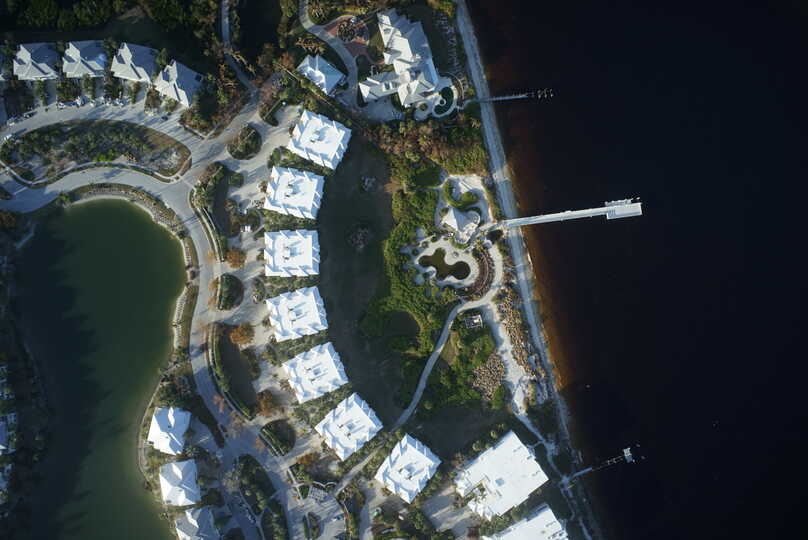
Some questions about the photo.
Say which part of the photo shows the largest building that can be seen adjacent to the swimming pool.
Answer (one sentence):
The largest building that can be seen adjacent to the swimming pool sits in the top section of the image.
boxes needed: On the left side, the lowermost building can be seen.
[174,504,221,540]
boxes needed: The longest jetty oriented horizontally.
[499,198,643,230]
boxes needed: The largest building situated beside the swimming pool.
[356,9,447,110]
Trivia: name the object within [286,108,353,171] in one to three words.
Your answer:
building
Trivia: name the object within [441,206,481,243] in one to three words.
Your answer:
building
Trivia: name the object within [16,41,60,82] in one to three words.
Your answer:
house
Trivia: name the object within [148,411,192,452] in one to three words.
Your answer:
house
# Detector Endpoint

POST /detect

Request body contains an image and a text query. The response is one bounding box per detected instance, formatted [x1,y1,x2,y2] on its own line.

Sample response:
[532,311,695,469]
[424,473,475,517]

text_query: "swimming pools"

[435,87,454,114]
